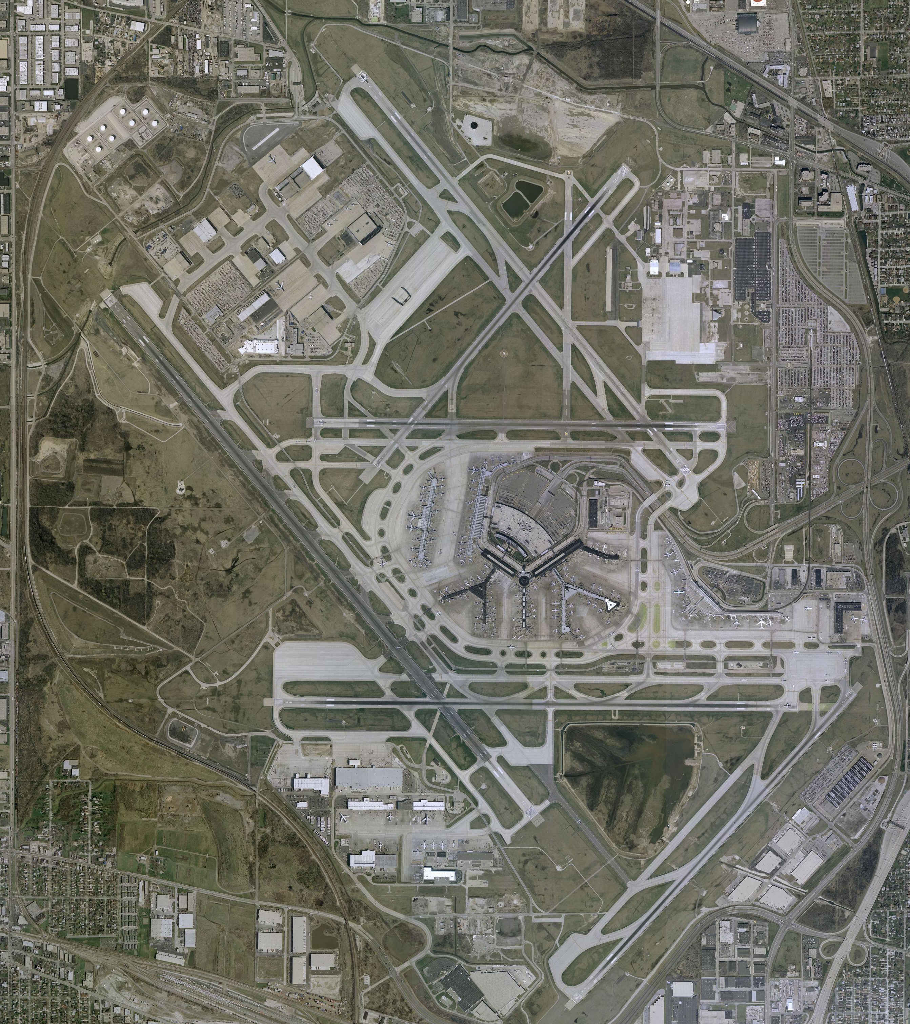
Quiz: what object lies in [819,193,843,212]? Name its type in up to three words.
building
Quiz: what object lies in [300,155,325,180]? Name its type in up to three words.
hangar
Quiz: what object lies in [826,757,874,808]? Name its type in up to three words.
shed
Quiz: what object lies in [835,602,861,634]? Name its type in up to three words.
building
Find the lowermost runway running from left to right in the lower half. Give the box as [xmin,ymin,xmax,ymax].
[273,696,798,712]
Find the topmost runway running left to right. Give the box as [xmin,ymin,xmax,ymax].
[314,417,726,432]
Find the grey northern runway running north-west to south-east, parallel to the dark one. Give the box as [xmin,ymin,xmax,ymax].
[358,70,689,473]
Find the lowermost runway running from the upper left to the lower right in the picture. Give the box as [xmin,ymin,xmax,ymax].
[104,294,536,816]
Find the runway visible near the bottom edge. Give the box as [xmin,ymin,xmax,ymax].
[573,690,855,1002]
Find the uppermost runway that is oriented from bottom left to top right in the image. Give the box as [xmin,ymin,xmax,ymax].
[373,167,627,466]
